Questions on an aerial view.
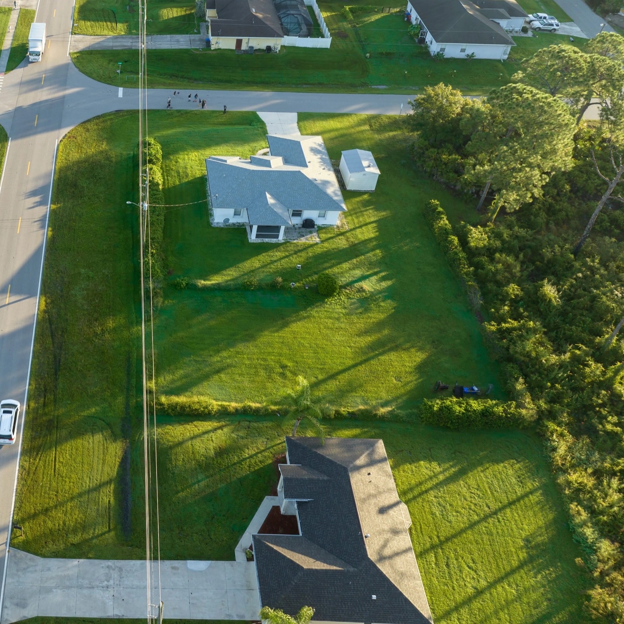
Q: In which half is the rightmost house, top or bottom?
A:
top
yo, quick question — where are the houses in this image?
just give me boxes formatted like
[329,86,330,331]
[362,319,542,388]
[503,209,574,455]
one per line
[205,135,347,240]
[204,0,285,50]
[251,435,435,624]
[408,0,530,57]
